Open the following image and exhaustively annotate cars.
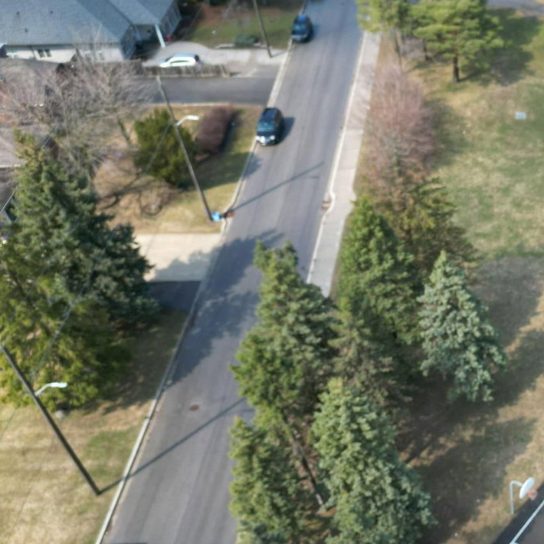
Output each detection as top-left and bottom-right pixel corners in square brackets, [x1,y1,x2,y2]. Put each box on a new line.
[290,18,315,42]
[256,113,286,145]
[158,54,198,72]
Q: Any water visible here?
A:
No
